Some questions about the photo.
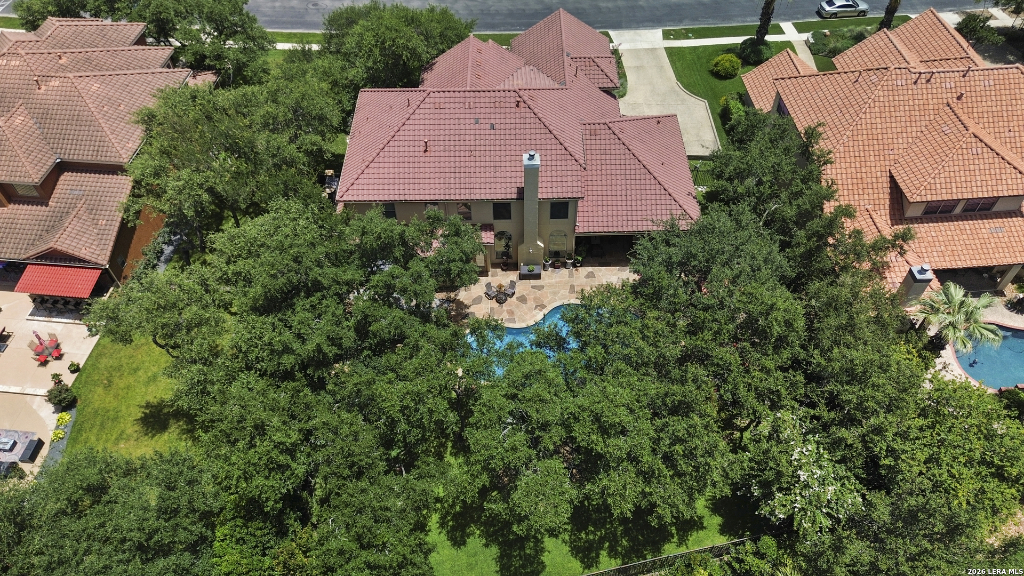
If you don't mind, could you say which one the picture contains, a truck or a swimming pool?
swimming pool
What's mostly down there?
trees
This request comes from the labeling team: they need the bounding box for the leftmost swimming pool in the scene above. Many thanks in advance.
[460,298,655,386]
